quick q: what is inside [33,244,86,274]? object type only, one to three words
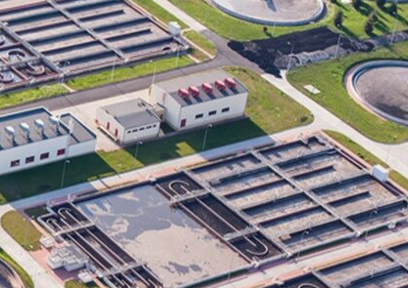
building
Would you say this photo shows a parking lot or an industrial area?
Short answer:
industrial area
